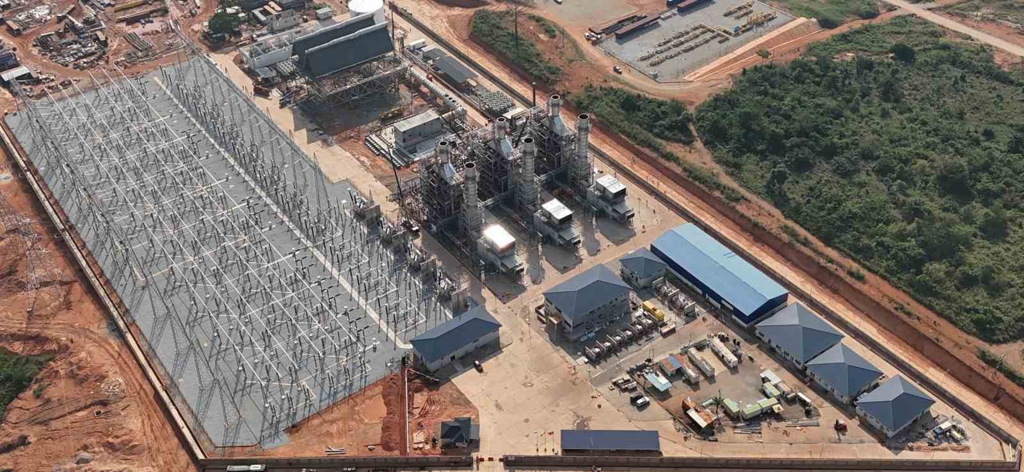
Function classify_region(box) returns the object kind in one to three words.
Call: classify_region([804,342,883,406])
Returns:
house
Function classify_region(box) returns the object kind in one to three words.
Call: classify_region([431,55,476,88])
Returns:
shed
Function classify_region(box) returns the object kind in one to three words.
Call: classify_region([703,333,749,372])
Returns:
trailer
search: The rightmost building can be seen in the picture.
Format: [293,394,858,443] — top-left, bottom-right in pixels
[853,373,933,440]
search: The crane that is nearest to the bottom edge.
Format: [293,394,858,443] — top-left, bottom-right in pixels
[386,146,419,237]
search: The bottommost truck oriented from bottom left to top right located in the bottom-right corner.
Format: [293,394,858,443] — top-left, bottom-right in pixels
[934,415,960,438]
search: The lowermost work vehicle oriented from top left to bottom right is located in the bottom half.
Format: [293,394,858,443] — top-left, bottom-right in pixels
[831,411,848,432]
